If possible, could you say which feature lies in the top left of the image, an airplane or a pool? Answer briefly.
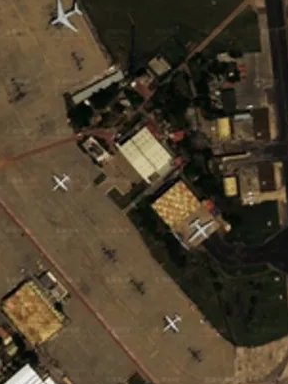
airplane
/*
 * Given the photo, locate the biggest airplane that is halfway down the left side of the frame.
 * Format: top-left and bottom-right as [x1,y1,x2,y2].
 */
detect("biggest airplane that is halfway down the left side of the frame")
[54,173,72,192]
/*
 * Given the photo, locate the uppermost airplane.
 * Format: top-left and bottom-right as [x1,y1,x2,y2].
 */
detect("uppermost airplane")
[52,0,87,31]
